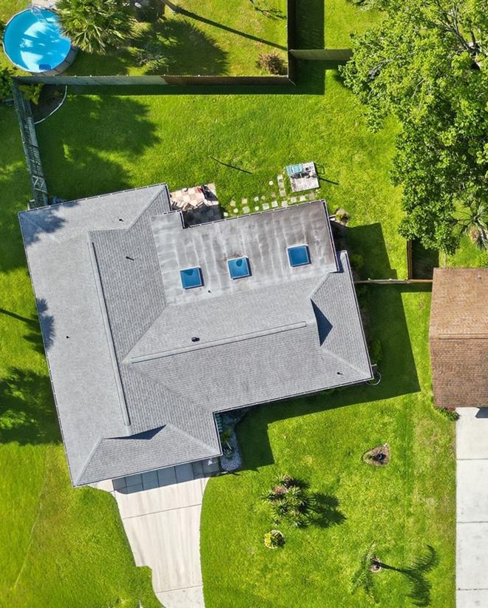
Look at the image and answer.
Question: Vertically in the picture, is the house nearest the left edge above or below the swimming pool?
below it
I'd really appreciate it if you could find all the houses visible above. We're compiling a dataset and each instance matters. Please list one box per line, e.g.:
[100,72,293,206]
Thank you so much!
[17,181,375,490]
[427,268,488,408]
